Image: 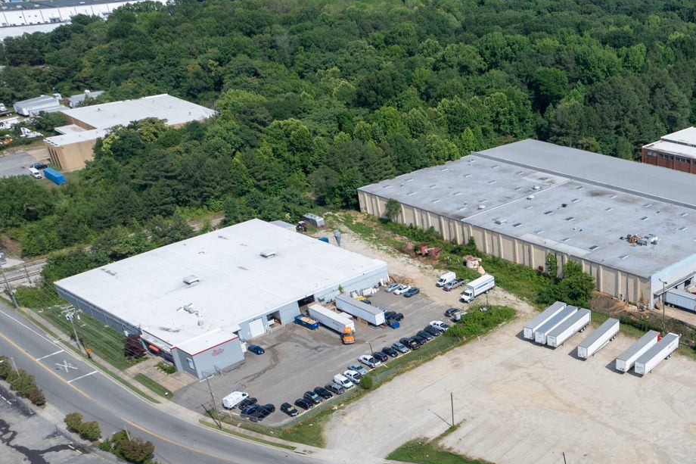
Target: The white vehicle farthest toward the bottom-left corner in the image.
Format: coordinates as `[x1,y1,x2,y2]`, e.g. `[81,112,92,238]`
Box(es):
[219,388,251,410]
